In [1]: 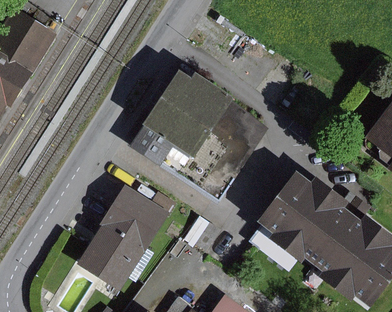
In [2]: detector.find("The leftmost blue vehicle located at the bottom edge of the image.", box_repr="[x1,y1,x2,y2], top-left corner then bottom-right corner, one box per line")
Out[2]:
[181,288,196,304]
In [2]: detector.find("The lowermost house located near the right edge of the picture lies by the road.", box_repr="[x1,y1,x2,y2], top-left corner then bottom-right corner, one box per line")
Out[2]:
[258,172,392,312]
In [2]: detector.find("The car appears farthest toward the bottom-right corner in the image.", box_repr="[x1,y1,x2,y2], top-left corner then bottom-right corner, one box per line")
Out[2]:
[333,172,357,185]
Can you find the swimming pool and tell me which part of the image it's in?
bottom left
